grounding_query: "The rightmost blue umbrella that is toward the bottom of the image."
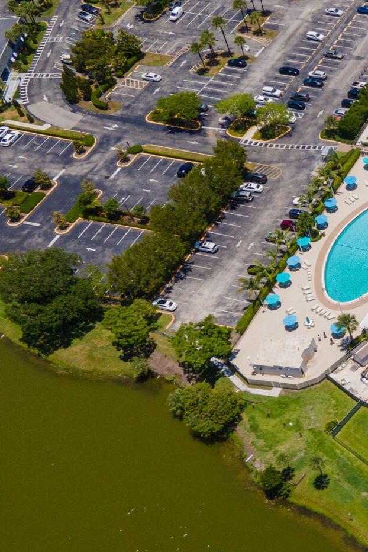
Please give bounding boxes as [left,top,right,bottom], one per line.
[329,325,344,340]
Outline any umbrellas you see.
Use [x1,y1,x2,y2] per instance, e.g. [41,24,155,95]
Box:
[323,200,336,213]
[265,295,280,310]
[297,238,310,252]
[286,258,301,271]
[315,217,328,231]
[344,178,357,191]
[276,275,291,289]
[283,316,297,330]
[329,325,344,340]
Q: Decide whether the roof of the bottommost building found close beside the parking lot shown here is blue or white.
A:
white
